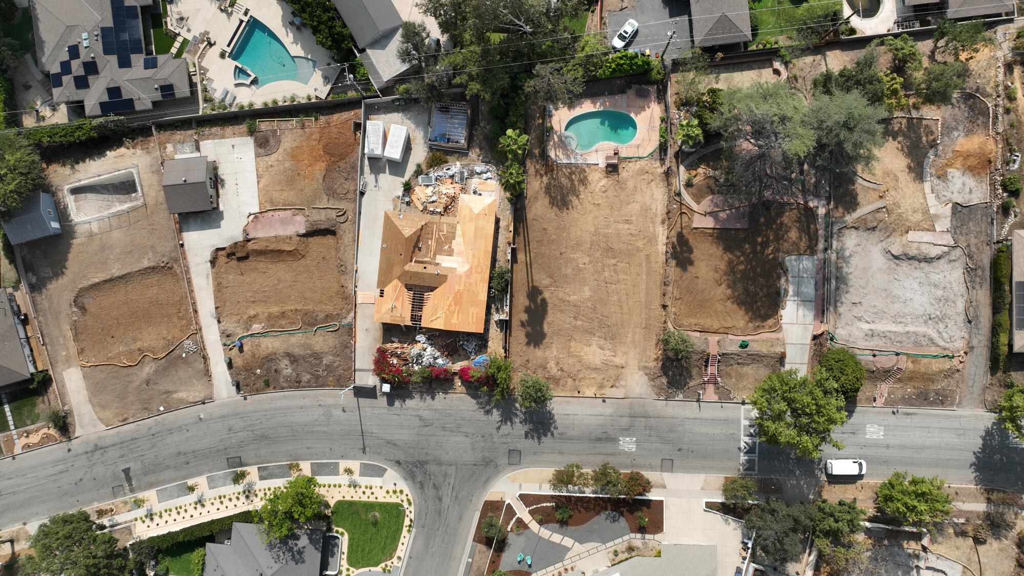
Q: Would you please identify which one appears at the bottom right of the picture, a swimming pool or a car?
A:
car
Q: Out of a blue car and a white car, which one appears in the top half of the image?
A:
white car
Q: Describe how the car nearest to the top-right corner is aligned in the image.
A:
on a diagonal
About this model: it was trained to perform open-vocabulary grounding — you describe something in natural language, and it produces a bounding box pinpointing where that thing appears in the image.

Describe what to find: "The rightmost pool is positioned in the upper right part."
[841,0,883,20]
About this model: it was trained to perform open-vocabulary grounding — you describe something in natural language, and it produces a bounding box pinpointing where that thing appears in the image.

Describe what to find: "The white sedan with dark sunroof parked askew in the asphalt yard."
[610,11,643,52]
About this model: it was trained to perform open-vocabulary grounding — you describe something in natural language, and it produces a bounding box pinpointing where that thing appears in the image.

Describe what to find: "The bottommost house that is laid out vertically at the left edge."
[0,288,46,386]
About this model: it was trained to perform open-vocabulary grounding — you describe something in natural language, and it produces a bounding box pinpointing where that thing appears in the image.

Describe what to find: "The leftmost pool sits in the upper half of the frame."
[62,167,144,224]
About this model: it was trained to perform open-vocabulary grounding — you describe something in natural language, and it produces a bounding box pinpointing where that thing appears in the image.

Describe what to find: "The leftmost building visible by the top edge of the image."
[33,0,199,117]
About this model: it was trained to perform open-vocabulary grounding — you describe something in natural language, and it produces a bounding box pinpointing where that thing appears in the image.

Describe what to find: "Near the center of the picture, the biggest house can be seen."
[374,195,496,332]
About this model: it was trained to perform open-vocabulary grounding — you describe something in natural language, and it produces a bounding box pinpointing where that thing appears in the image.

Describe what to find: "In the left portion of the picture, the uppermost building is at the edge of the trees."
[341,0,403,50]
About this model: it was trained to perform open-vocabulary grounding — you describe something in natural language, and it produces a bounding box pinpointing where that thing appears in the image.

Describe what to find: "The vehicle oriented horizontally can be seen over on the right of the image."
[827,459,869,479]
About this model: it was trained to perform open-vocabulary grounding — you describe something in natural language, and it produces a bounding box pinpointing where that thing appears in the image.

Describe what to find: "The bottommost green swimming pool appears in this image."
[562,108,639,154]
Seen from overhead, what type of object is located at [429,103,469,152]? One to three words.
shed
